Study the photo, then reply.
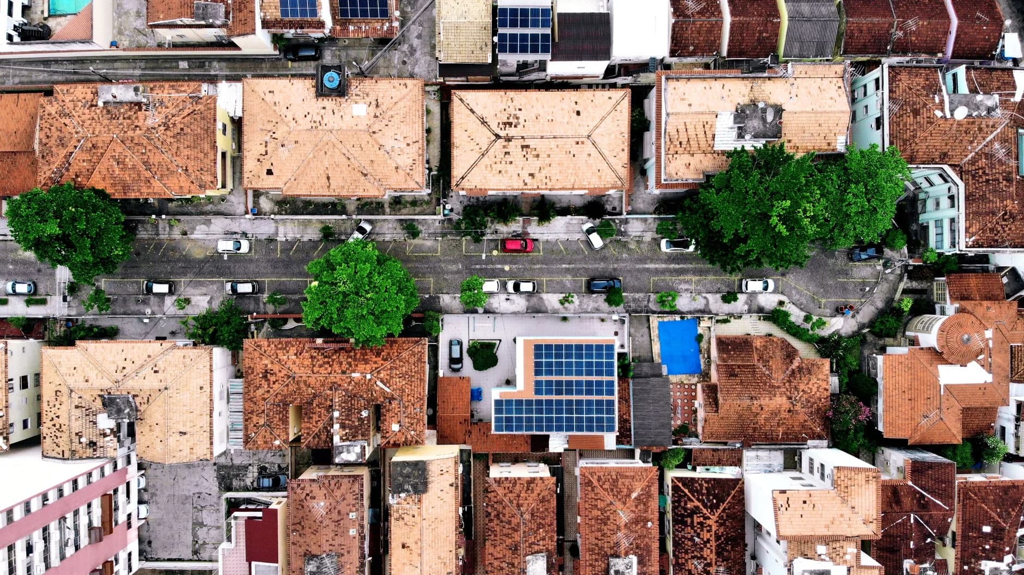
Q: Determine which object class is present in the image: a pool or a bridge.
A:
pool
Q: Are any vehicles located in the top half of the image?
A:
Yes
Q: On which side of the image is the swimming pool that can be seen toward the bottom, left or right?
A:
right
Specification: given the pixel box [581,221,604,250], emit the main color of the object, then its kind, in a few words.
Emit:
white car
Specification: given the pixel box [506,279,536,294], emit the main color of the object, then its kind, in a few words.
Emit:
white car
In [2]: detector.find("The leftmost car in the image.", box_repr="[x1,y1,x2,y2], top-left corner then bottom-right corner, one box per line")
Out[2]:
[7,280,38,295]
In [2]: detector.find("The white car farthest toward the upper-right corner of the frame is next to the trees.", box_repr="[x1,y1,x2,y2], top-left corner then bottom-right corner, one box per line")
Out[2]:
[740,278,773,294]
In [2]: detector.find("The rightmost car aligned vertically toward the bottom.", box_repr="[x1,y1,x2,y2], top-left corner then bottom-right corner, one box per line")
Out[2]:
[448,338,464,371]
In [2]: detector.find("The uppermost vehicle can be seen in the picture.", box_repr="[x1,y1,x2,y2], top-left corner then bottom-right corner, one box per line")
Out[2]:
[286,45,320,62]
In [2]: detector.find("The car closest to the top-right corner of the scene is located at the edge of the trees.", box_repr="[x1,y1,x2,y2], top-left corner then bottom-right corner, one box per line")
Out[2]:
[848,247,879,262]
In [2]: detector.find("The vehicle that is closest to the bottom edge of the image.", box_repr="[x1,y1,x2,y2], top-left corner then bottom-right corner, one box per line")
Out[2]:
[136,503,154,519]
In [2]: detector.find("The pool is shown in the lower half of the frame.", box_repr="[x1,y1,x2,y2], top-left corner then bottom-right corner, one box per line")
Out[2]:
[656,317,704,377]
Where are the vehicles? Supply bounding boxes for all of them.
[145,280,176,295]
[136,474,151,489]
[588,277,621,292]
[347,218,373,244]
[7,280,38,295]
[448,338,464,371]
[477,279,503,294]
[581,221,604,250]
[228,280,258,295]
[661,237,694,253]
[506,279,536,294]
[740,278,773,294]
[286,45,320,62]
[848,247,879,262]
[257,474,281,489]
[136,503,154,519]
[219,240,250,254]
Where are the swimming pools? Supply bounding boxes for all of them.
[45,0,90,18]
[656,317,704,377]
